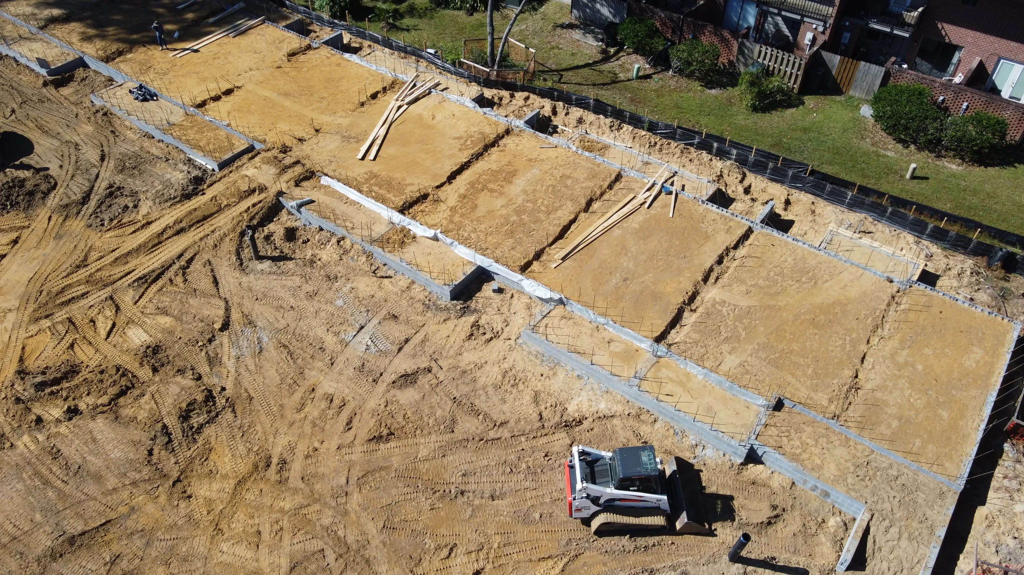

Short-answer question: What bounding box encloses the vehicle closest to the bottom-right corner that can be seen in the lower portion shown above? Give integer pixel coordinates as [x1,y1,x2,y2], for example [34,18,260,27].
[565,439,711,539]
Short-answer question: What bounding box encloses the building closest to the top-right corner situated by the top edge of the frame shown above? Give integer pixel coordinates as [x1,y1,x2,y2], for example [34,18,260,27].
[896,0,1024,95]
